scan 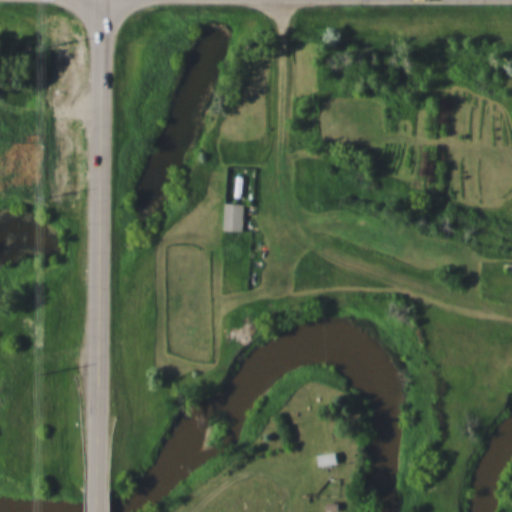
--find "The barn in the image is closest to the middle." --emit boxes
[224,204,244,232]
